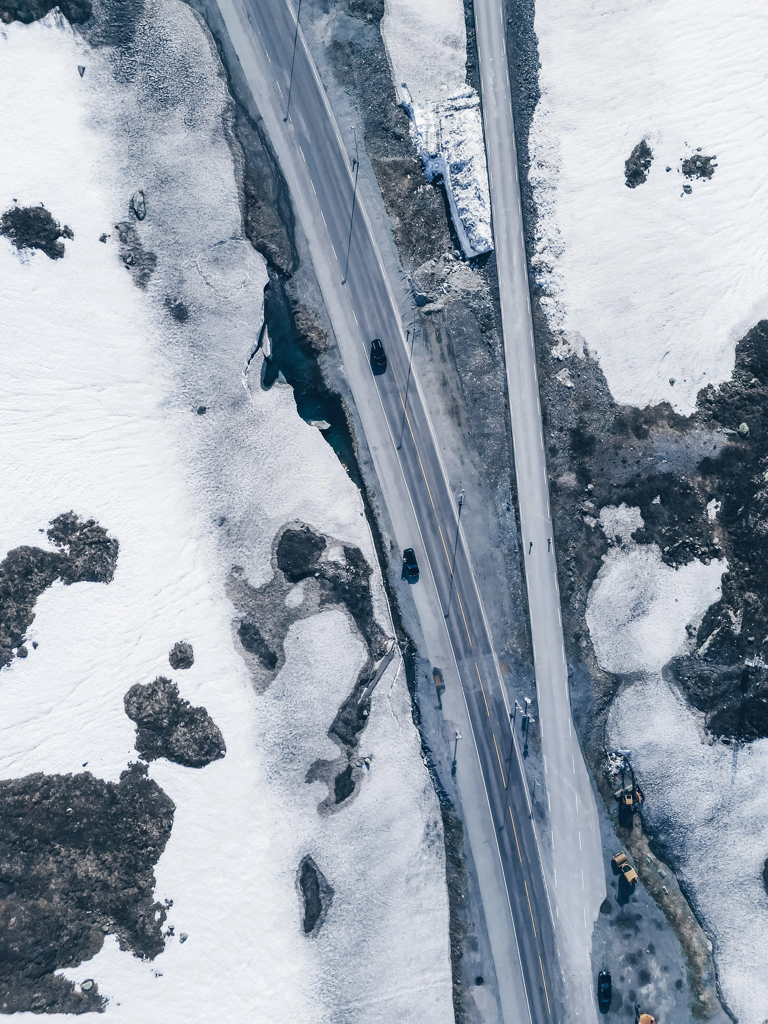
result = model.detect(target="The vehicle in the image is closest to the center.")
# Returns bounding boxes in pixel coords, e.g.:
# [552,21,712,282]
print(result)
[401,548,419,576]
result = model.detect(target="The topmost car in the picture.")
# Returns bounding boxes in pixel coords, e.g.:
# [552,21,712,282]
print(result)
[373,337,388,366]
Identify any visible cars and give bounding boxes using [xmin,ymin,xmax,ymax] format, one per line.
[597,972,612,1003]
[373,337,388,366]
[401,548,419,576]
